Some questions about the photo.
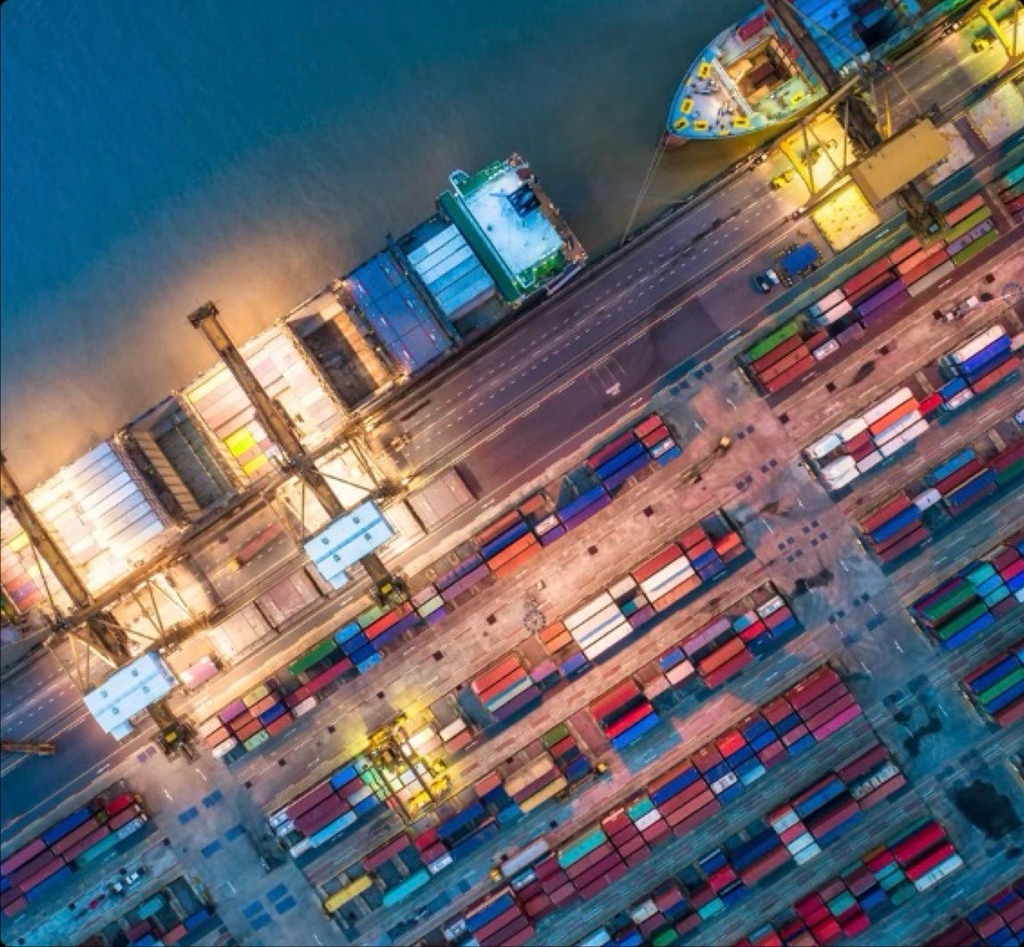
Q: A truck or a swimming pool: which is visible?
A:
truck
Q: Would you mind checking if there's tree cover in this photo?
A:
No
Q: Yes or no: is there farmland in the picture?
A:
No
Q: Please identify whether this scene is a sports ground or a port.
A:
port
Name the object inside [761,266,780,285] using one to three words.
car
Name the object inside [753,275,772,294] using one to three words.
car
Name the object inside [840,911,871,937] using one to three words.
shipping container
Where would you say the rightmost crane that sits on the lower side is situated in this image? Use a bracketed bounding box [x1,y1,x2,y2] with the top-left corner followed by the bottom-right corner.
[357,697,463,830]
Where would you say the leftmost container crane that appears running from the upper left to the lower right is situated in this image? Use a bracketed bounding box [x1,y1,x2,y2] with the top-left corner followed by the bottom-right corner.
[0,461,223,765]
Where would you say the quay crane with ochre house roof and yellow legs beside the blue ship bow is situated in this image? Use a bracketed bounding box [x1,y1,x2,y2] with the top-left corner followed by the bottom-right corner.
[749,0,961,247]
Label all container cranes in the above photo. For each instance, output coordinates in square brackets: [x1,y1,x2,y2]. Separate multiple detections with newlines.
[749,0,961,247]
[944,0,1024,89]
[179,299,414,620]
[357,697,463,830]
[0,461,223,765]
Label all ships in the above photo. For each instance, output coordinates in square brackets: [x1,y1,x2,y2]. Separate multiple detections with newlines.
[664,0,976,150]
[0,161,584,663]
